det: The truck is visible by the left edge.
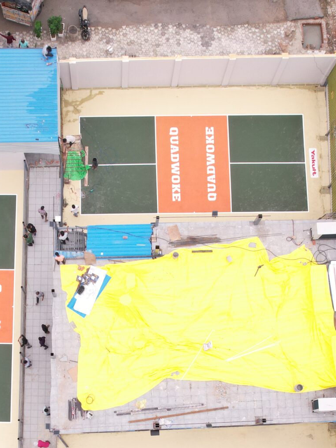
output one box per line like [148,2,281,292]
[2,0,39,30]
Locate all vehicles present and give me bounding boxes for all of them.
[2,0,39,30]
[80,2,95,39]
